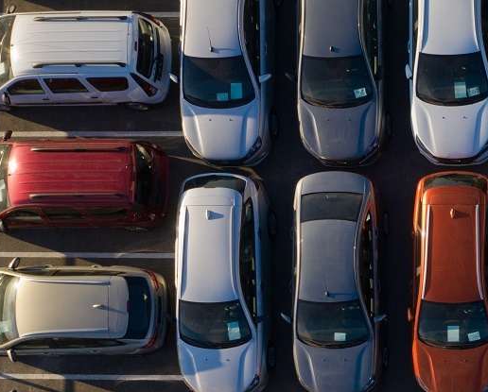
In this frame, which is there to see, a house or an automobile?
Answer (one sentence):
I can see an automobile in this picture.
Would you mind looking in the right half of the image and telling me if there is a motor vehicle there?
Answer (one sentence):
Yes, I can see a motor vehicle in the right half of the image.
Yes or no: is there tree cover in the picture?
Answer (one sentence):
No, the picture contains no tree cover.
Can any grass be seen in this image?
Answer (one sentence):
No, the picture contains no grass.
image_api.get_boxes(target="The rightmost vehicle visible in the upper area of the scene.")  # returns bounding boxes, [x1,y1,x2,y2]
[397,0,488,168]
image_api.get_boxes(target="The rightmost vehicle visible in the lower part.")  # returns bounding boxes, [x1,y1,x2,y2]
[398,172,488,392]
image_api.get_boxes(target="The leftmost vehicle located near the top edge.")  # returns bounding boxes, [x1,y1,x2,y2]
[0,0,177,115]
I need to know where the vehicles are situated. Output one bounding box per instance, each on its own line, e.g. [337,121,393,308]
[0,254,173,364]
[398,172,488,392]
[0,0,177,115]
[160,172,279,392]
[397,0,488,168]
[163,0,282,169]
[280,0,392,170]
[274,169,386,392]
[0,125,175,236]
